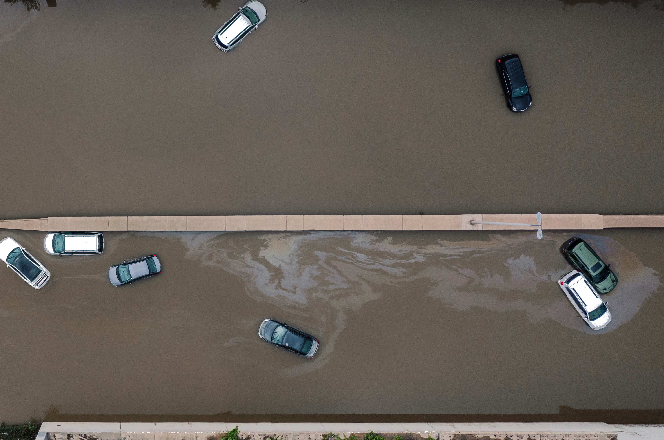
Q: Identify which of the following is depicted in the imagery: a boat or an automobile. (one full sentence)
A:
There is an automobile in the scene.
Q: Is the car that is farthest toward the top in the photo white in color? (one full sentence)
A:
Yes, white is the color of the car that is farthest toward the top.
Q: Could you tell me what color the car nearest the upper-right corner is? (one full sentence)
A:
From above, the car nearest the upper-right corner appears black.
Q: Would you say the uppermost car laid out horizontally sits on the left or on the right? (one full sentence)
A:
The uppermost car laid out horizontally sits on the left side.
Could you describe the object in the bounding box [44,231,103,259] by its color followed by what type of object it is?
white car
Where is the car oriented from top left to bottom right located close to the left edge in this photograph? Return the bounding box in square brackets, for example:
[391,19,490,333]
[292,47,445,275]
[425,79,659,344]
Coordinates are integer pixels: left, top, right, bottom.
[0,236,53,291]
